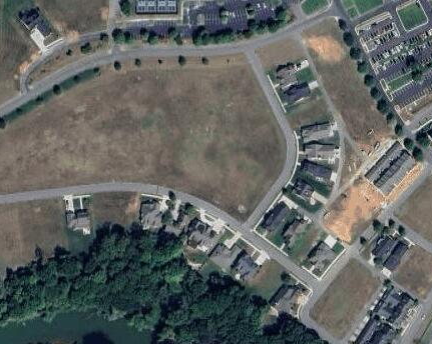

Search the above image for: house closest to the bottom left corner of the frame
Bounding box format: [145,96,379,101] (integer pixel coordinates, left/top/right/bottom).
[66,206,90,230]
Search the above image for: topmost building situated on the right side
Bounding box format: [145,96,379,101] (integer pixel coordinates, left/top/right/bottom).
[276,62,299,84]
